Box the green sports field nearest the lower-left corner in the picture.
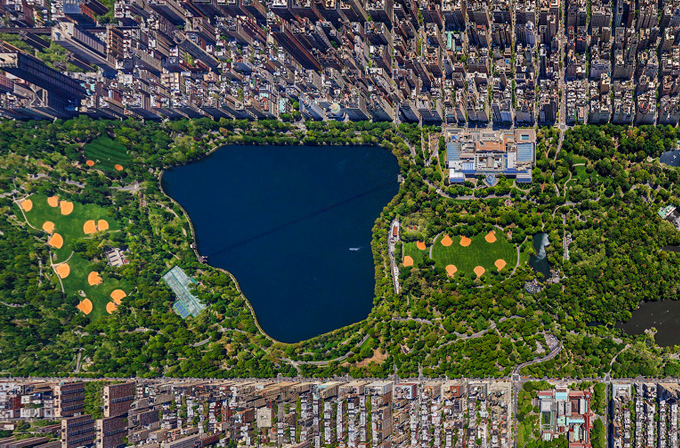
[18,194,127,319]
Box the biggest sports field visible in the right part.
[433,228,519,285]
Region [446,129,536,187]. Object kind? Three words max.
building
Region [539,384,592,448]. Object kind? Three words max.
building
